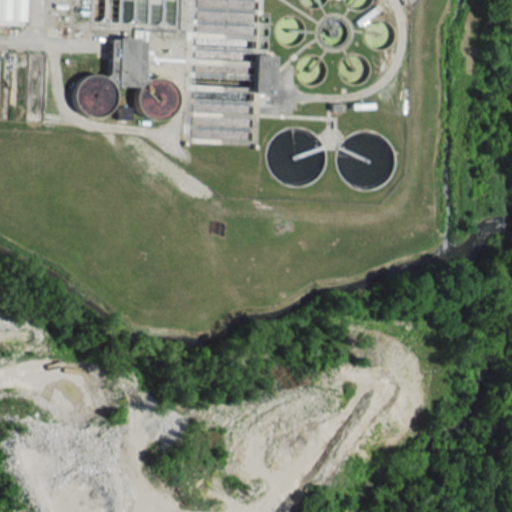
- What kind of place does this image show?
industrial area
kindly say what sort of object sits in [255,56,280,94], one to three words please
building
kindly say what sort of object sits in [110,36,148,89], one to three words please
building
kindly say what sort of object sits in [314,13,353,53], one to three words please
storage tank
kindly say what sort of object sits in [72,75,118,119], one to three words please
storage tank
